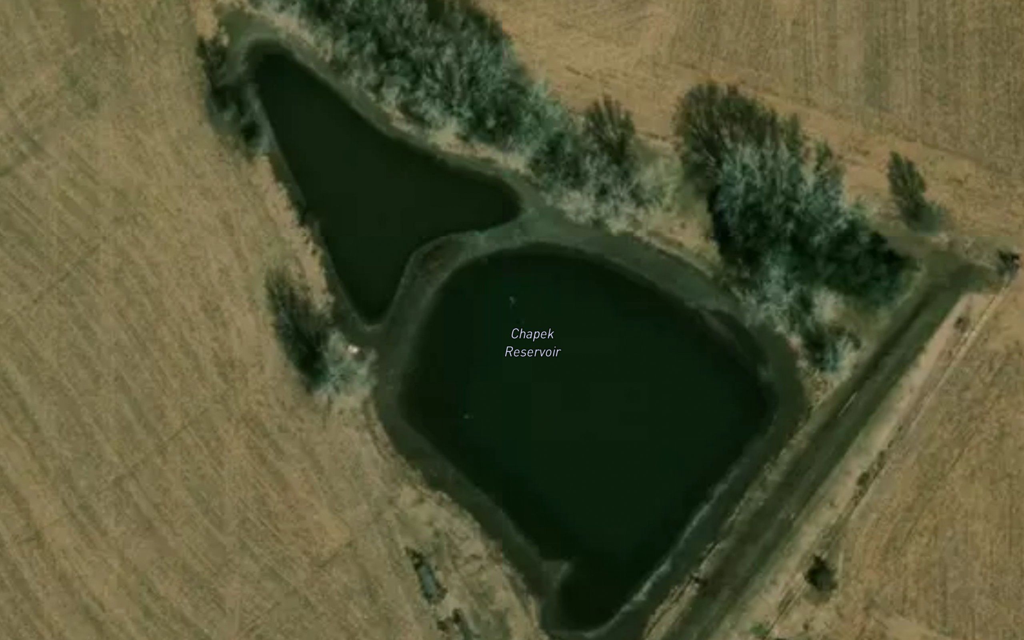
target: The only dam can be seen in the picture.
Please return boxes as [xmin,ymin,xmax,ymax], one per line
[642,278,912,640]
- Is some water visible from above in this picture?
Yes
